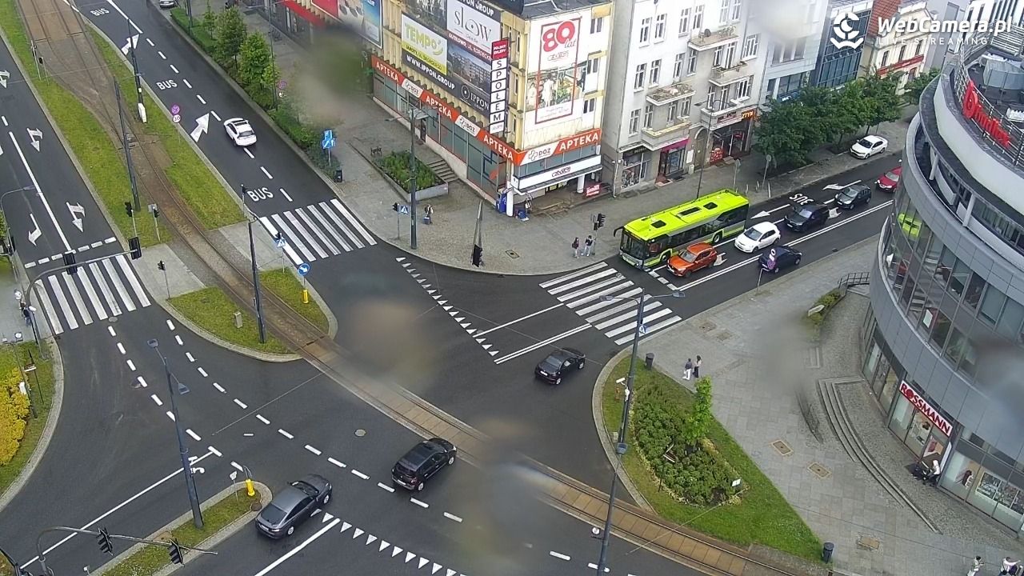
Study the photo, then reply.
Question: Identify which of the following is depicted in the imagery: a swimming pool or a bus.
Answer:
bus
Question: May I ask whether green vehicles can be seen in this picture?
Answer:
Yes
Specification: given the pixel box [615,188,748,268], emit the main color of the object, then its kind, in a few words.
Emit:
green bus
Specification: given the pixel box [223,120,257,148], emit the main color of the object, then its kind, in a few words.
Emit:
white car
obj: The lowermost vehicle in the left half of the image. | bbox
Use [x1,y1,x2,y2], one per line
[256,475,336,540]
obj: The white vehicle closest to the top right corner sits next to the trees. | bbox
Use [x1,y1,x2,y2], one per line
[848,135,893,159]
